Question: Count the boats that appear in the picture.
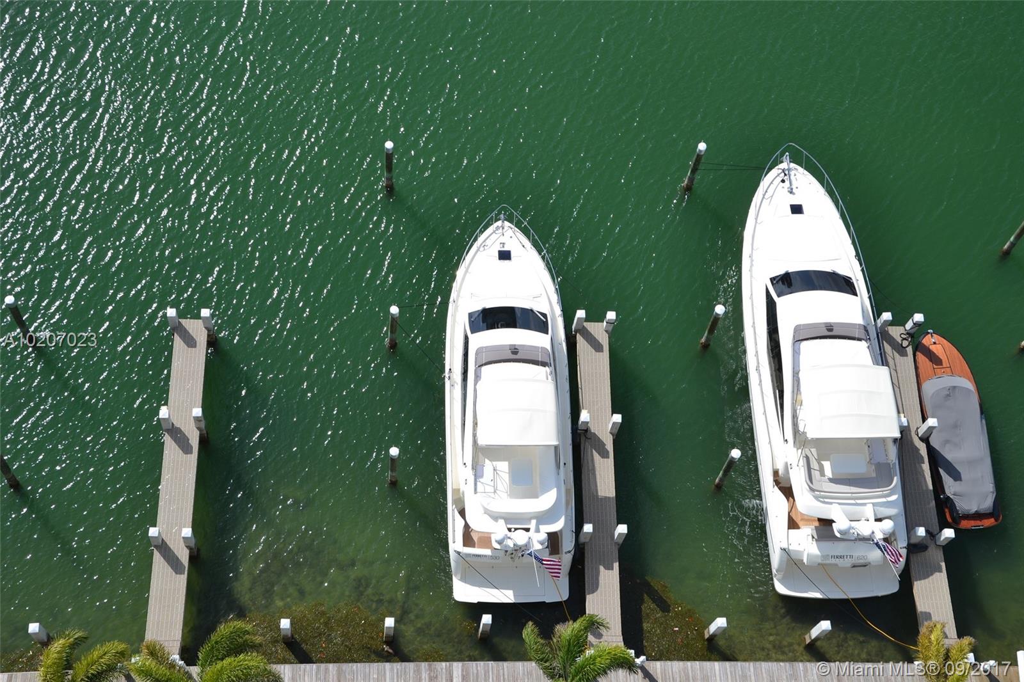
3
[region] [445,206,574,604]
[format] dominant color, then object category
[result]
white boat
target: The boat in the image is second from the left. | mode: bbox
[743,144,907,599]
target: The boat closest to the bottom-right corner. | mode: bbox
[915,328,998,533]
